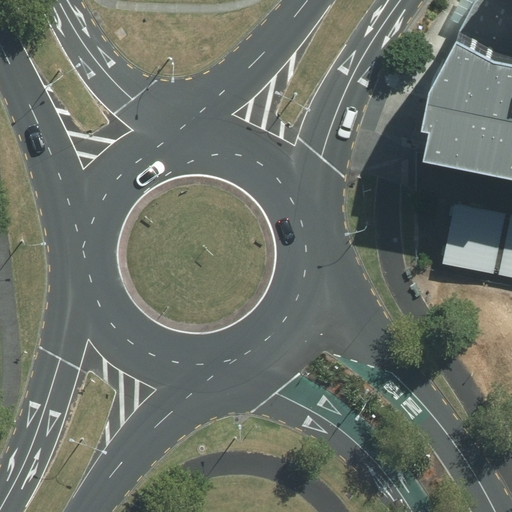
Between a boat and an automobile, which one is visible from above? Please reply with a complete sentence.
Looking from above, you can make out an automobile.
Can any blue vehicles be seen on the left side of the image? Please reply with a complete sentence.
No, I can find no blue vehicle on the left side of the image.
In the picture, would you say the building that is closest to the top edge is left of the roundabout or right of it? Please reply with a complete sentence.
To the right of the roundabout is where the building that is closest to the top edge appears.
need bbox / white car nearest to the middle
[136,162,165,185]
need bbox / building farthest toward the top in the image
[422,0,512,180]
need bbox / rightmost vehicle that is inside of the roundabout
[278,218,294,245]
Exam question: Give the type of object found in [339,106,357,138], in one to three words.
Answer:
car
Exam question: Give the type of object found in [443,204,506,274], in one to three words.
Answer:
shed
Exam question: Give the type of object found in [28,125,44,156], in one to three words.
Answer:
car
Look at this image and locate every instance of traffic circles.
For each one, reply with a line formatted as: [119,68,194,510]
[48,116,335,392]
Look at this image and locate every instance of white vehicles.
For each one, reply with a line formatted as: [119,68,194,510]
[339,106,357,138]
[136,162,165,185]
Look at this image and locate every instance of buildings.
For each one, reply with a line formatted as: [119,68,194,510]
[497,216,512,278]
[422,0,512,180]
[443,204,506,274]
